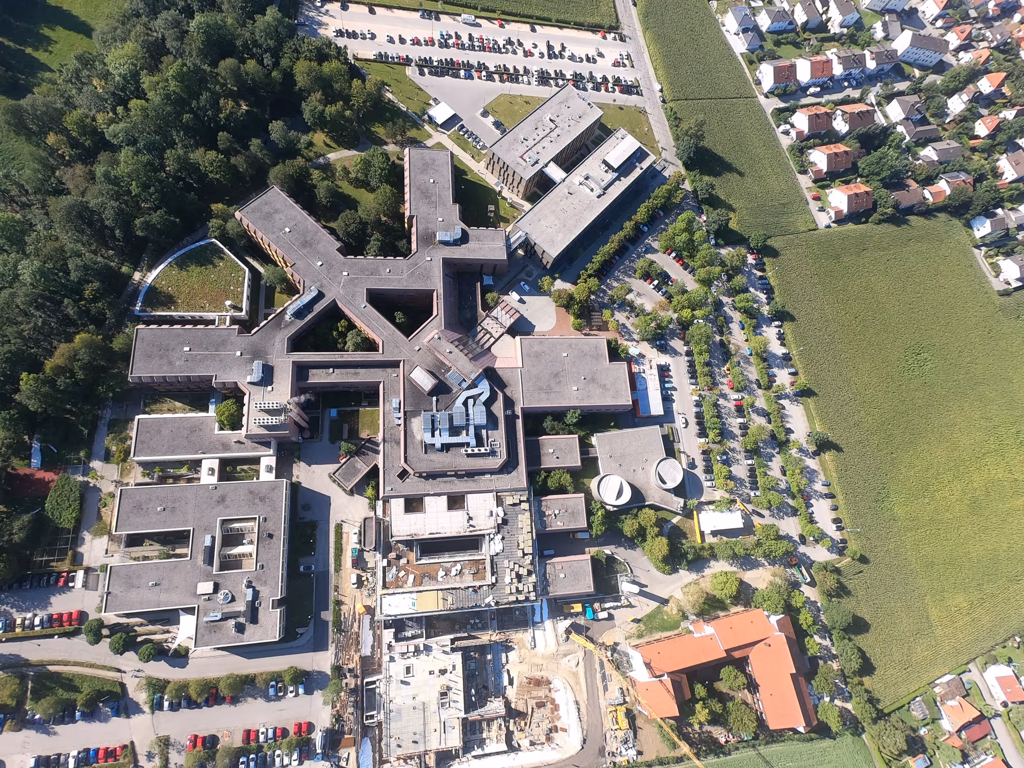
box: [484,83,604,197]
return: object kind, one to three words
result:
building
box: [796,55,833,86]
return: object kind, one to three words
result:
house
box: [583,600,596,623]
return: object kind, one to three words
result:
vehicle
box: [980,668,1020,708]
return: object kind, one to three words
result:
house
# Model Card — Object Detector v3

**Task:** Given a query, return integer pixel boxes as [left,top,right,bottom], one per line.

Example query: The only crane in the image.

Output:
[566,627,705,768]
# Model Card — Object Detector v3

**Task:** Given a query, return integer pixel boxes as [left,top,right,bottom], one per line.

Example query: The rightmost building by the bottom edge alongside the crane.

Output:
[623,608,815,730]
